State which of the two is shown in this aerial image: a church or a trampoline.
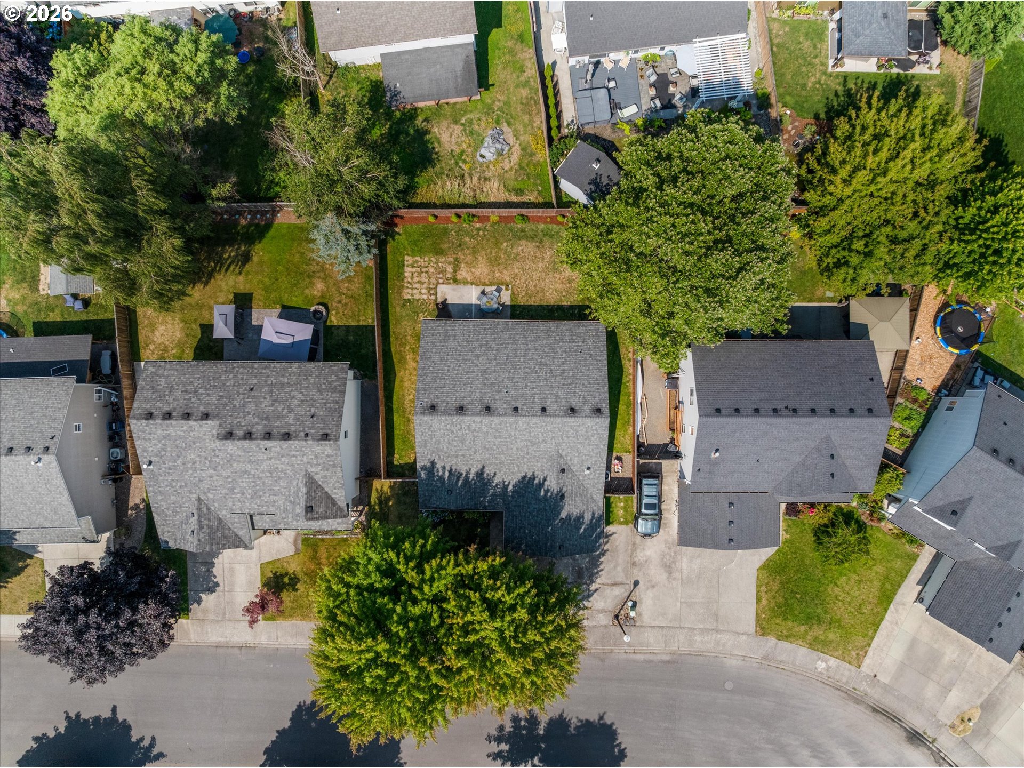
trampoline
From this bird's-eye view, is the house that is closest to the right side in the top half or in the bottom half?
bottom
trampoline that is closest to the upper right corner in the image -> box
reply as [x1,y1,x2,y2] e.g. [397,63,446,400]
[931,300,1003,355]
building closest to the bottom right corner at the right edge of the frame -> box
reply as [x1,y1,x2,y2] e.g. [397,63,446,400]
[868,379,1024,658]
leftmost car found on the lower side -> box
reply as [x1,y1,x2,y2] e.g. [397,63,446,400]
[632,474,665,539]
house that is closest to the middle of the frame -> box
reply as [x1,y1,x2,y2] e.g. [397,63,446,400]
[416,318,610,556]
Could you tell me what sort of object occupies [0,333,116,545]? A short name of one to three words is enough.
house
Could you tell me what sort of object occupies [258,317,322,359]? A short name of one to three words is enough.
gazebo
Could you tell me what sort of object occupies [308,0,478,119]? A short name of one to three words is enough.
house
